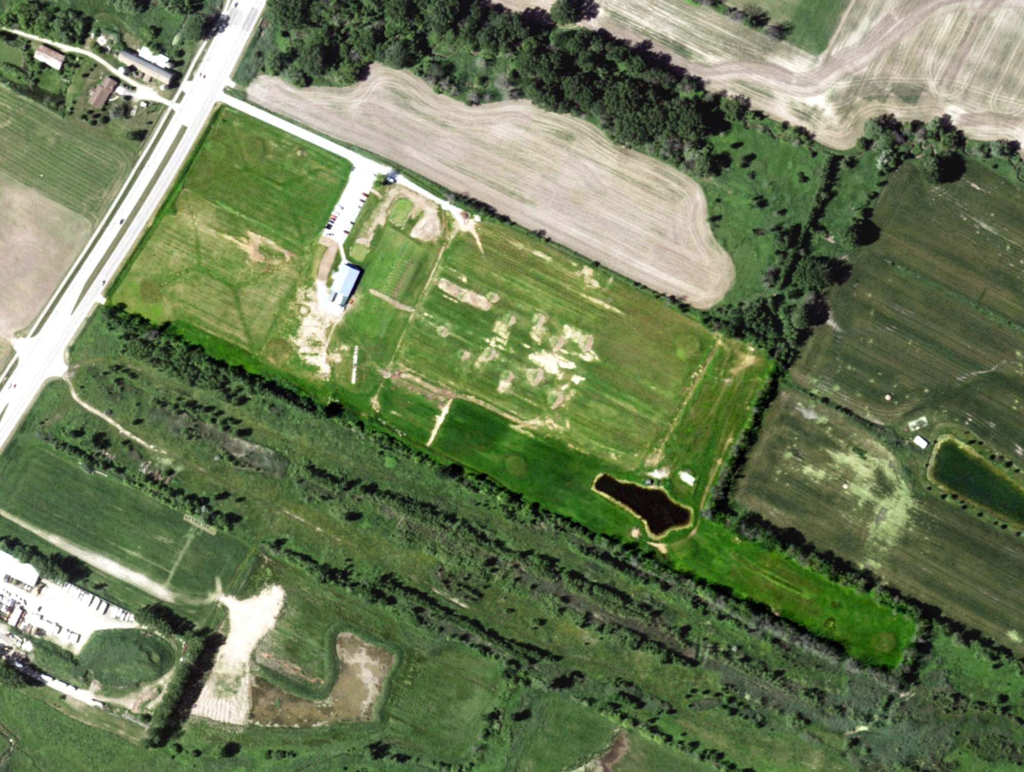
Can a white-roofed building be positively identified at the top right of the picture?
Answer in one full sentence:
No, there is no white-roofed building at the top right of the picture.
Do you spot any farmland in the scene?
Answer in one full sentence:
Yes, farmland shows up in the scene.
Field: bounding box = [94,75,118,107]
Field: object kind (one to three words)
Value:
house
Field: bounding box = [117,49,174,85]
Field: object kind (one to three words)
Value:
barn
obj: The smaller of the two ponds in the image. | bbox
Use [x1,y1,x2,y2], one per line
[594,474,692,537]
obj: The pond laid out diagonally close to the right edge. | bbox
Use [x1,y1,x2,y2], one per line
[930,437,1024,526]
